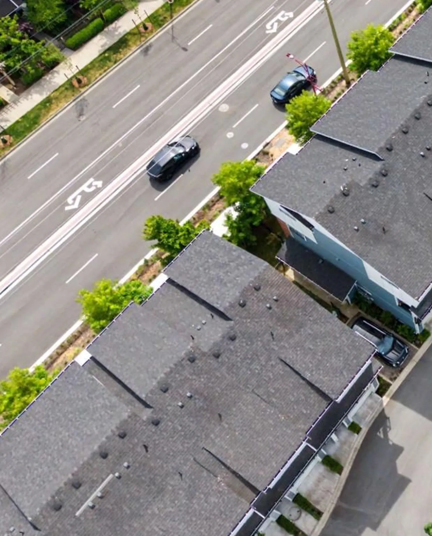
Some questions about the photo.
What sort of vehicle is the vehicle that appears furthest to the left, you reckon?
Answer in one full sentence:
I'd say the vehicle that appears furthest to the left is a car.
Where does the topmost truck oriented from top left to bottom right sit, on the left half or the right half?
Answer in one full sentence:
The topmost truck oriented from top left to bottom right sits on the right side.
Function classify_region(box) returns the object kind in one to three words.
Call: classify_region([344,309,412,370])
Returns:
truck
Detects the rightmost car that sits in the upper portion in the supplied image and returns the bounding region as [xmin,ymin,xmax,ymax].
[267,64,316,108]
